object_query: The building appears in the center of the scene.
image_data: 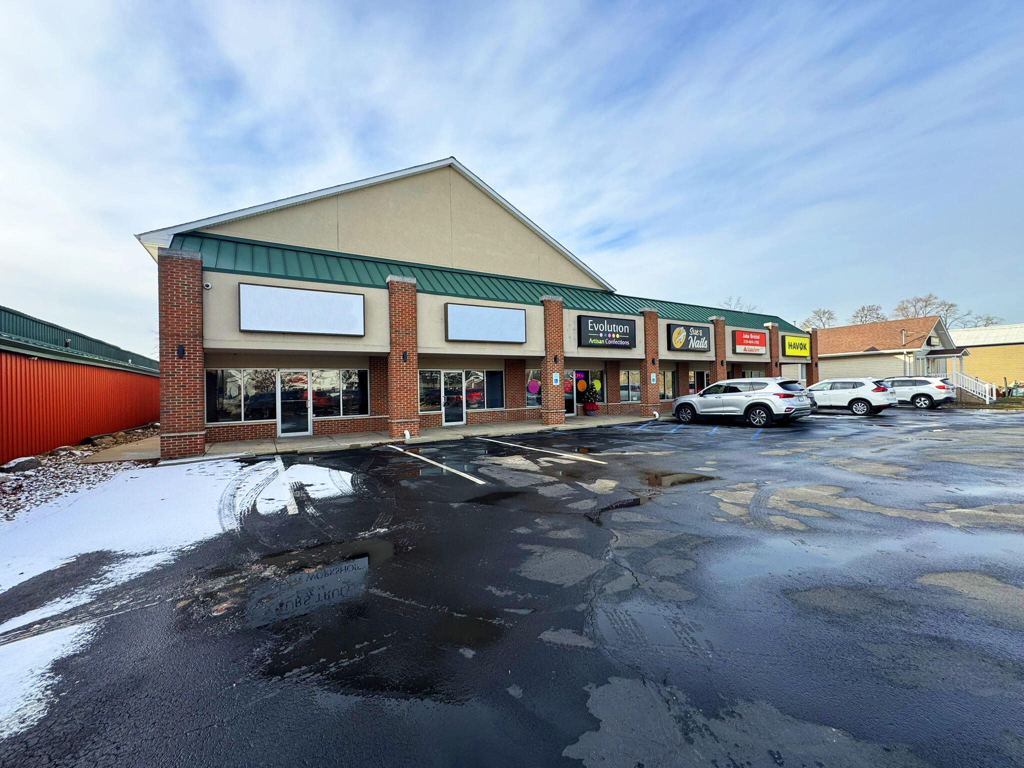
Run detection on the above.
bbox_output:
[131,154,819,457]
